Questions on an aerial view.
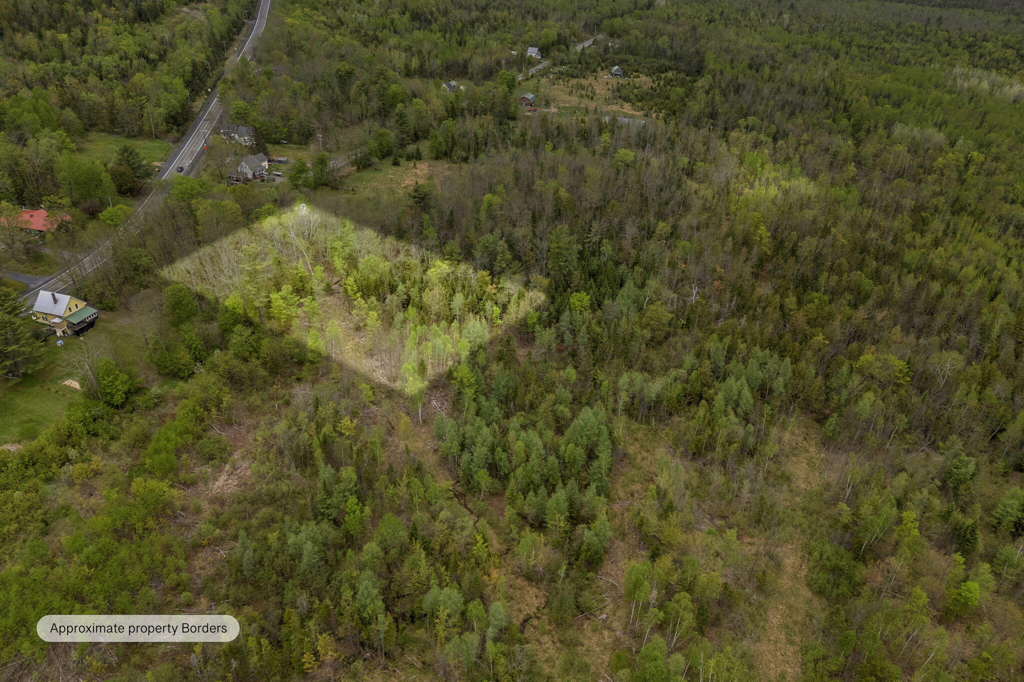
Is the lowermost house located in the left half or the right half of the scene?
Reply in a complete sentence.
The lowermost house appears in the left half of the scene.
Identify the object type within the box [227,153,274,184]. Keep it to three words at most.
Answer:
house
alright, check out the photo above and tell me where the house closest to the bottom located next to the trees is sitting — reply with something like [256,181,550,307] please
[32,288,103,336]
